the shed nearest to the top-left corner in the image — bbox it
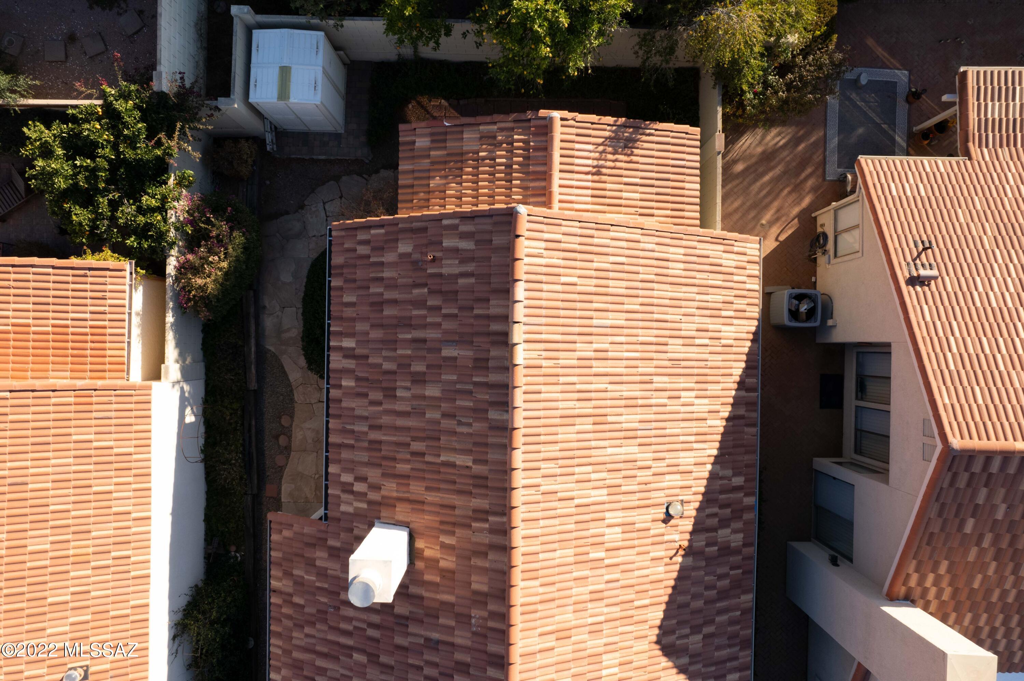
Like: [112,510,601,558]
[247,28,344,131]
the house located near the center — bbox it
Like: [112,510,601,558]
[265,108,763,681]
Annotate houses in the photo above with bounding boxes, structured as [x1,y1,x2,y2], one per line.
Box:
[0,258,203,681]
[786,63,1024,681]
[265,108,763,681]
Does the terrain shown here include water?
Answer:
No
